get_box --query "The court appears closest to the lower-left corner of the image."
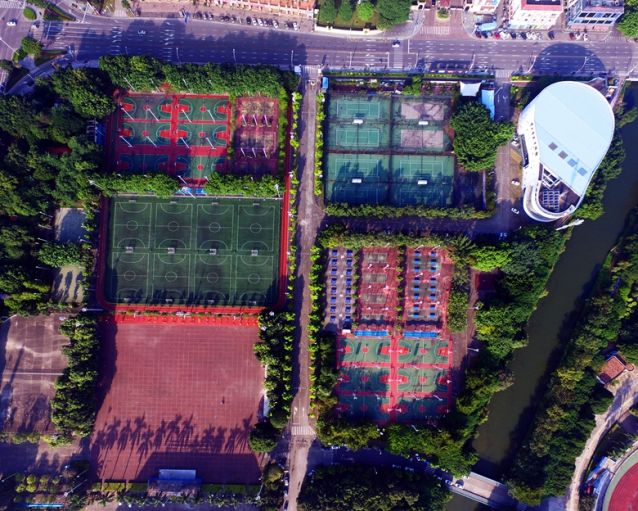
[51,264,84,303]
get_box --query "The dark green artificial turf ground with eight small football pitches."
[97,92,292,314]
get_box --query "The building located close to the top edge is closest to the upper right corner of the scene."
[564,0,629,34]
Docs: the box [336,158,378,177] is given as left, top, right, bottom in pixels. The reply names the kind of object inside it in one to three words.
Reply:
tennis court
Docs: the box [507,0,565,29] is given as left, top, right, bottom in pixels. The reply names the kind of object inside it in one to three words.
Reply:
building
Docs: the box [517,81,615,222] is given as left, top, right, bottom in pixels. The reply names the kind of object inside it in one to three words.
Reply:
building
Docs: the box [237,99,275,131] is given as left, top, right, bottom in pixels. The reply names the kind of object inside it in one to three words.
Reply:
sports court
